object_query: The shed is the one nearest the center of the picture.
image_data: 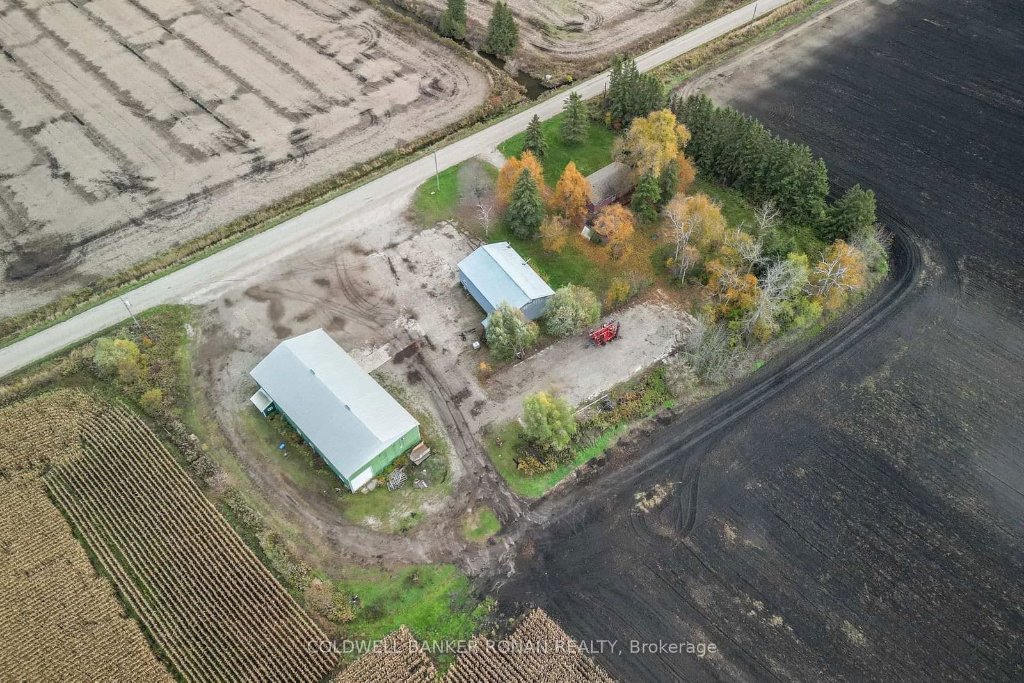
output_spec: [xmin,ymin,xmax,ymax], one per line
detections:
[457,243,556,337]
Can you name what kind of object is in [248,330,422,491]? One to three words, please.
barn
